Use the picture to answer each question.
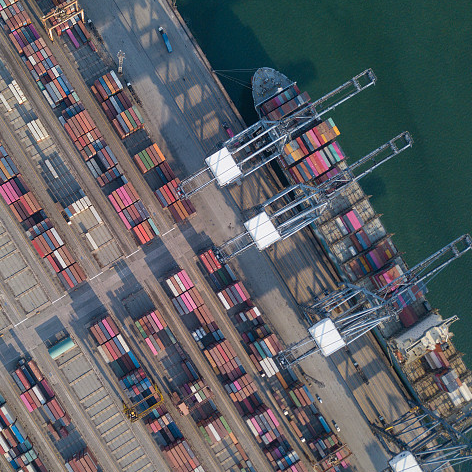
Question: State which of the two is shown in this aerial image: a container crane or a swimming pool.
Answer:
container crane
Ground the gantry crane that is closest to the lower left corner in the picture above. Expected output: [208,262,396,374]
[123,381,166,423]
